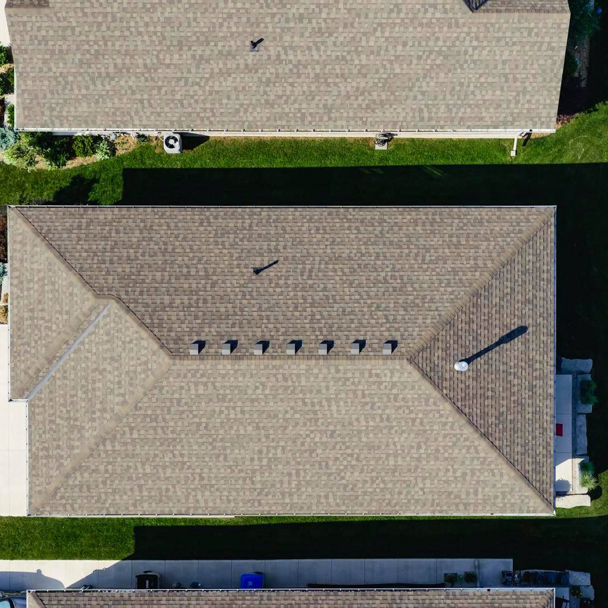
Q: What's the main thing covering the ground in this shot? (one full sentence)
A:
The scene is dominated by buildings.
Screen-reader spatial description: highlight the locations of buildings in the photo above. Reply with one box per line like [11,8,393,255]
[28,585,556,608]
[4,0,572,153]
[10,208,556,515]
